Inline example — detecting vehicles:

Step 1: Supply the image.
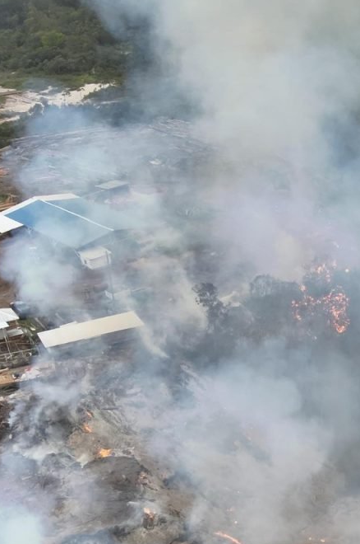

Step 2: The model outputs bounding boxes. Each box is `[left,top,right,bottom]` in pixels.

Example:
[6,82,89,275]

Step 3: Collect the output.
[10,297,30,313]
